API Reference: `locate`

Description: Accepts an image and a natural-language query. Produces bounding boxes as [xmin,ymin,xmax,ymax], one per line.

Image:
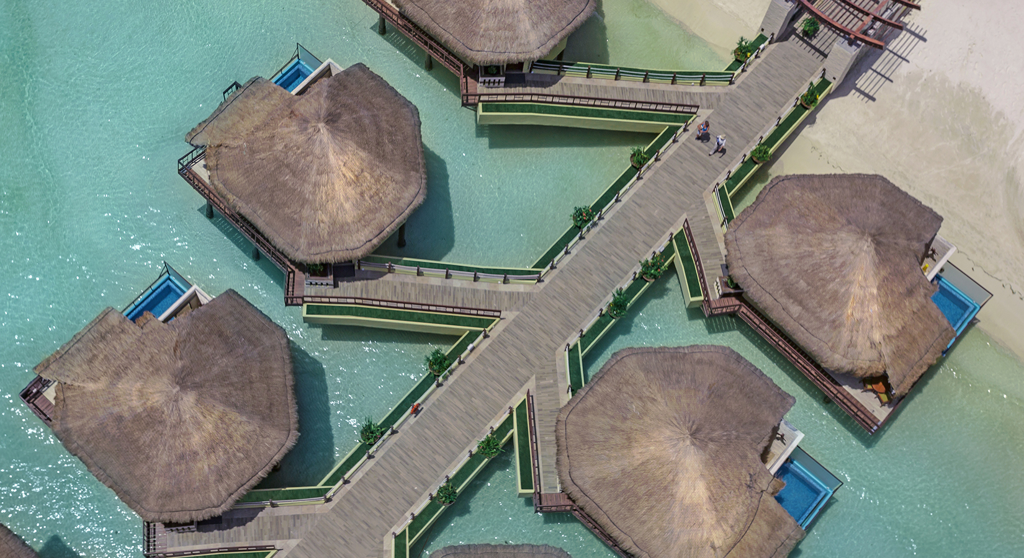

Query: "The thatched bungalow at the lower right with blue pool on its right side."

[538,343,808,558]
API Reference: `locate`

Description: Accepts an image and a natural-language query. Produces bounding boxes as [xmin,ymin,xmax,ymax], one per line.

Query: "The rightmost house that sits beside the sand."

[707,173,956,437]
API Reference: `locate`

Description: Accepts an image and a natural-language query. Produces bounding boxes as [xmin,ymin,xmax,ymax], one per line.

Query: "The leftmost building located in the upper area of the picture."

[179,60,430,306]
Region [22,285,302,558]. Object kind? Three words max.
house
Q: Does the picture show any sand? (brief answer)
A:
Yes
